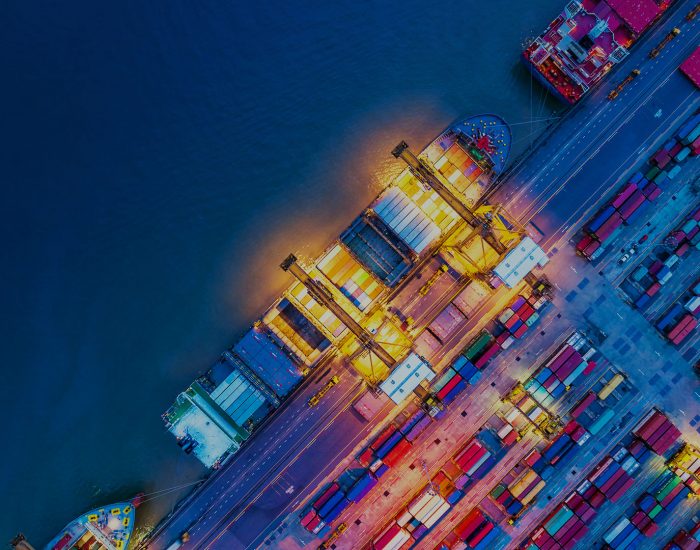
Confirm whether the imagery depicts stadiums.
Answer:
No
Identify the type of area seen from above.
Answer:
port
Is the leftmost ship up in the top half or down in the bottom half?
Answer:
bottom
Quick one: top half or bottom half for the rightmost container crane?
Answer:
bottom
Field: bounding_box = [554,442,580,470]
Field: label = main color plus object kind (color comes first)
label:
blue shipping container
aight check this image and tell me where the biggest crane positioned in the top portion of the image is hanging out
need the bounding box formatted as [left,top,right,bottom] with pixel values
[389,135,556,292]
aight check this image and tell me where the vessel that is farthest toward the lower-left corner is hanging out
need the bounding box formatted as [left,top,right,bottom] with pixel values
[41,492,145,550]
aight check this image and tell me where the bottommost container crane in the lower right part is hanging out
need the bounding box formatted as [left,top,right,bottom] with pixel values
[651,441,700,499]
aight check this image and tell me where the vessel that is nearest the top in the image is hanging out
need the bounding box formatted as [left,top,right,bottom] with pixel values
[522,0,675,103]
